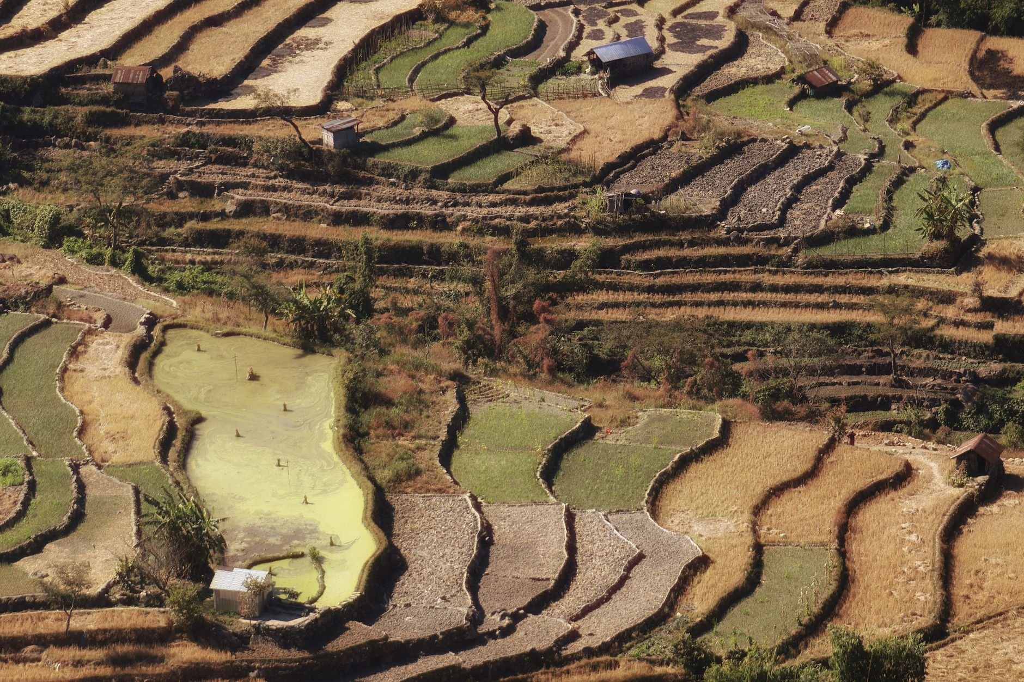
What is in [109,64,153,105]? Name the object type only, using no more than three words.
shed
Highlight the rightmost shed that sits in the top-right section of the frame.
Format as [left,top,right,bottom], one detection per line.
[799,64,841,100]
